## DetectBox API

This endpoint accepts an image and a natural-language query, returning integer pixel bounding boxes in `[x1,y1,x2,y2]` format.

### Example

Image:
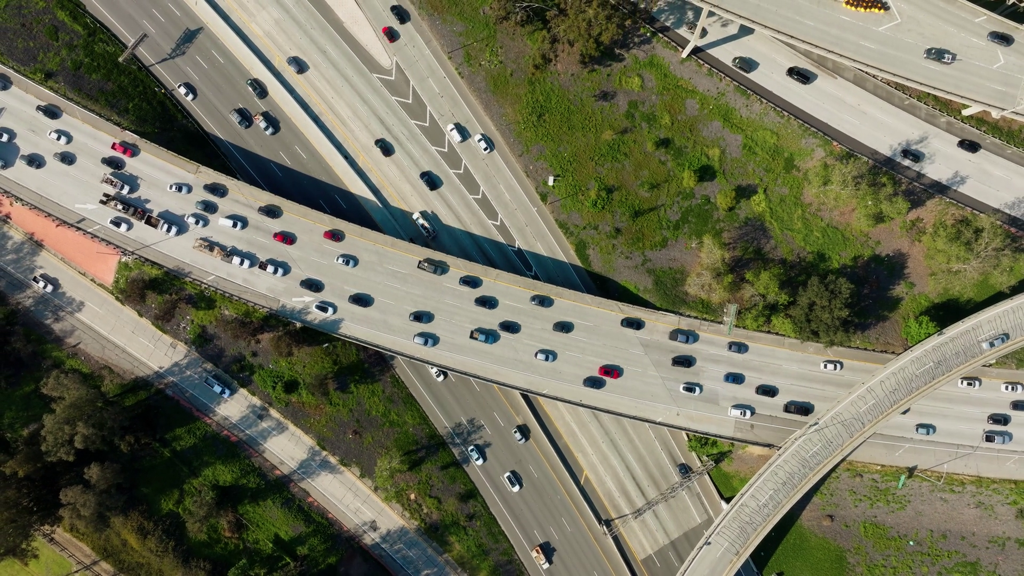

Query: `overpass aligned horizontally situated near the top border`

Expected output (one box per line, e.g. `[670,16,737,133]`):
[680,0,1024,126]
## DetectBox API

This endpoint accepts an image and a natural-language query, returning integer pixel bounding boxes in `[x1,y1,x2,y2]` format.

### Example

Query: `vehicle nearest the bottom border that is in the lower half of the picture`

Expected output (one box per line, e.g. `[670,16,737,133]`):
[530,543,550,570]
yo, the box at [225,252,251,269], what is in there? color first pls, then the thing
white vehicle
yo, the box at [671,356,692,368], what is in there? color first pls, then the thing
black vehicle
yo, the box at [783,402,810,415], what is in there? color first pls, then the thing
black vehicle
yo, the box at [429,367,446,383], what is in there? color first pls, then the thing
white car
